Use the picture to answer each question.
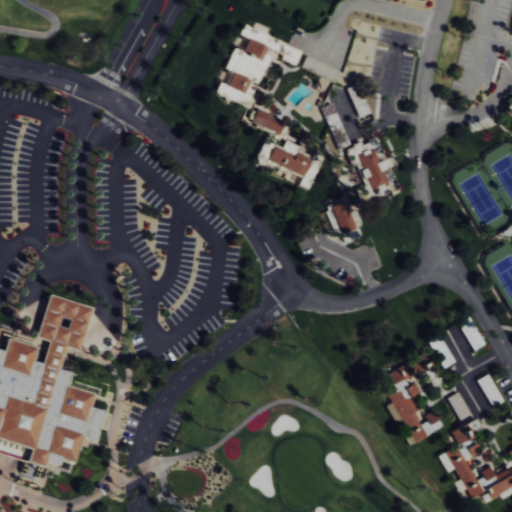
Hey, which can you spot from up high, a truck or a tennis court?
tennis court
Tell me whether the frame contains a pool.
Yes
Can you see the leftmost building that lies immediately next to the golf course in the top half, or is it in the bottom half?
bottom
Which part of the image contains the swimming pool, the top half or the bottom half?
top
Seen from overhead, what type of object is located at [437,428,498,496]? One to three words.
house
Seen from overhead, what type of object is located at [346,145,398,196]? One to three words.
house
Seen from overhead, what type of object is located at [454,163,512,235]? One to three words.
tennis court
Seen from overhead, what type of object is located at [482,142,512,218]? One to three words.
tennis court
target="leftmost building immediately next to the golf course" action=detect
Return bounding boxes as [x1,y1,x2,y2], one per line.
[0,294,106,467]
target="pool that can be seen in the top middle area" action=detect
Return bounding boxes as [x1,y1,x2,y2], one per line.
[285,76,323,121]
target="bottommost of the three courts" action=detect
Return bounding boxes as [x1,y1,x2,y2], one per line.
[487,242,512,310]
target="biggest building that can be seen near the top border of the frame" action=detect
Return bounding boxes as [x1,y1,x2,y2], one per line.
[216,22,304,108]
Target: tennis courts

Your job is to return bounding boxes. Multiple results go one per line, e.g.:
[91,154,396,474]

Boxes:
[454,163,512,235]
[482,142,512,218]
[487,242,512,310]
